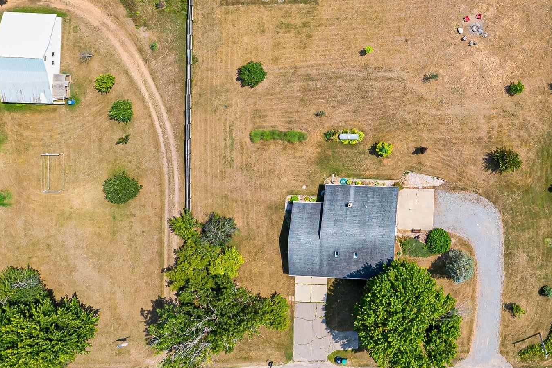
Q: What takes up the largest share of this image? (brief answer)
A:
grass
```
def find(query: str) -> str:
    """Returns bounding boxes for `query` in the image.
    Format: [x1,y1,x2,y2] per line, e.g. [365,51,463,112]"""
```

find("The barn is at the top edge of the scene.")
[0,12,62,103]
